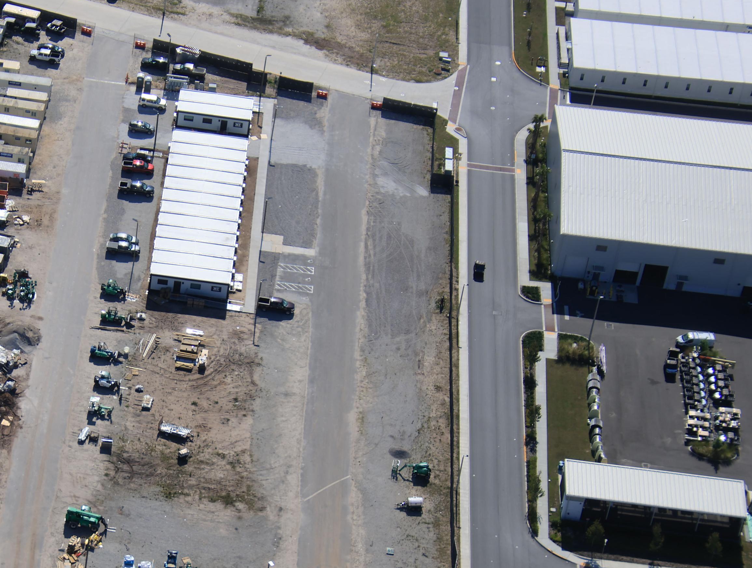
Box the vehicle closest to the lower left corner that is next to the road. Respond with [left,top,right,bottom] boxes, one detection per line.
[63,496,127,533]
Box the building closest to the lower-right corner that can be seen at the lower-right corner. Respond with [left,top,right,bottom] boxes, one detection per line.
[563,454,748,542]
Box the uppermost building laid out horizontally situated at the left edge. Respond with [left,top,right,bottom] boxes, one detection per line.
[0,71,52,99]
